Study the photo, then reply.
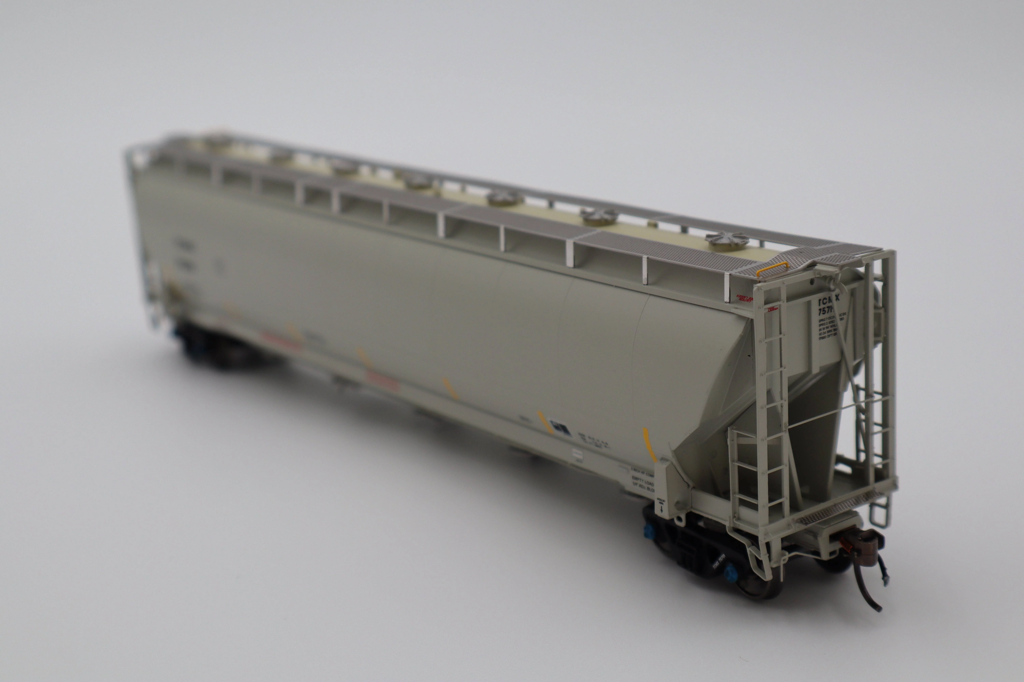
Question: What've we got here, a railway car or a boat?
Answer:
railway car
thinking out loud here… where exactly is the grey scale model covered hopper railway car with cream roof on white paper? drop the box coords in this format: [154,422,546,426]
[128,129,899,612]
